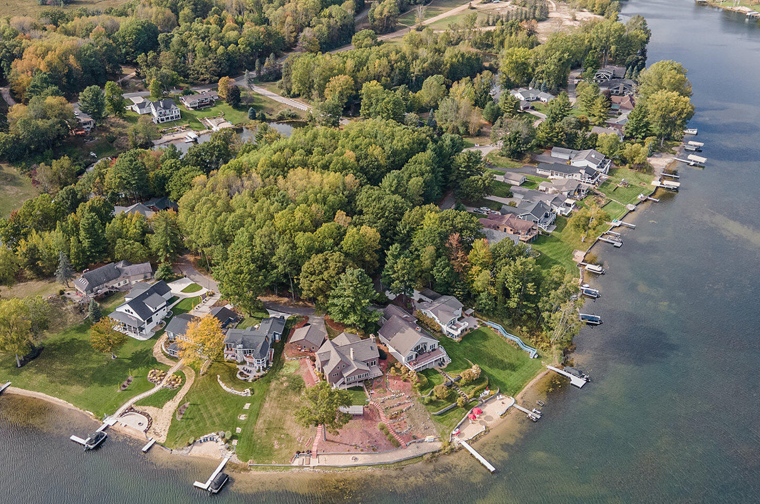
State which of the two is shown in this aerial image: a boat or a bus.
boat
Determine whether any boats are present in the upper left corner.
No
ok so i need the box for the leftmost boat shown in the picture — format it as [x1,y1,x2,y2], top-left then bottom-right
[85,431,108,450]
